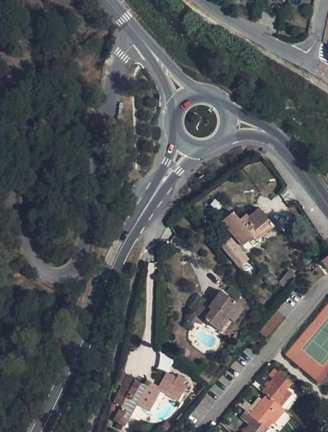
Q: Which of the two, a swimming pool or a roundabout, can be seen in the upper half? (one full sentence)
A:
What appears in the upper half is a roundabout.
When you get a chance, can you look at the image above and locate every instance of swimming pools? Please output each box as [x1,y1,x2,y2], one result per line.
[156,404,176,420]
[196,330,216,348]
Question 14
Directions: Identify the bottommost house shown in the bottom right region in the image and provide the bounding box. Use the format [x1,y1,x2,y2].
[240,396,290,432]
